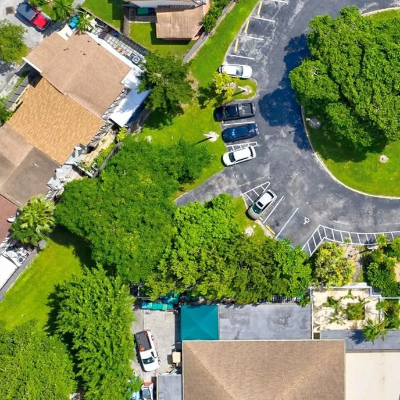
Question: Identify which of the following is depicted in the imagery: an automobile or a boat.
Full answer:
Visible in the photo is an automobile.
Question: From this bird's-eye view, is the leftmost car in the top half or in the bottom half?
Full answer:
The top half of the photo is where the leftmost car is.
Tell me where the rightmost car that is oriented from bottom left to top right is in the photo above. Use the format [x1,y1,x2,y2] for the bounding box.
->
[251,187,277,221]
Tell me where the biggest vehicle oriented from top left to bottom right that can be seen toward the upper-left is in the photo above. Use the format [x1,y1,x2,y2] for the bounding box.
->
[14,1,51,30]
